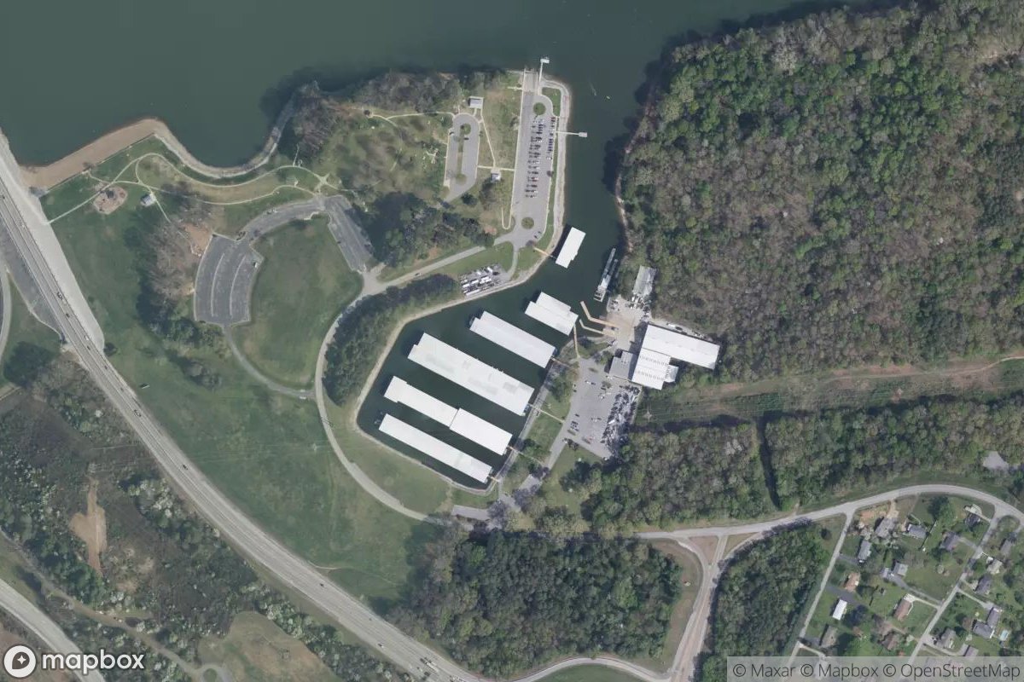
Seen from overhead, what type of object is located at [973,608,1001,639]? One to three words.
house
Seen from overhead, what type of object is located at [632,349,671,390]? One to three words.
shed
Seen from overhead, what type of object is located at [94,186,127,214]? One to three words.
playground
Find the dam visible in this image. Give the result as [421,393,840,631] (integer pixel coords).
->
[0,131,105,352]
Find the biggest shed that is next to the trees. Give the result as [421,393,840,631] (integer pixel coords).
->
[643,324,720,369]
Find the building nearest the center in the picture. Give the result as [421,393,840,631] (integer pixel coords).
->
[609,351,637,380]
